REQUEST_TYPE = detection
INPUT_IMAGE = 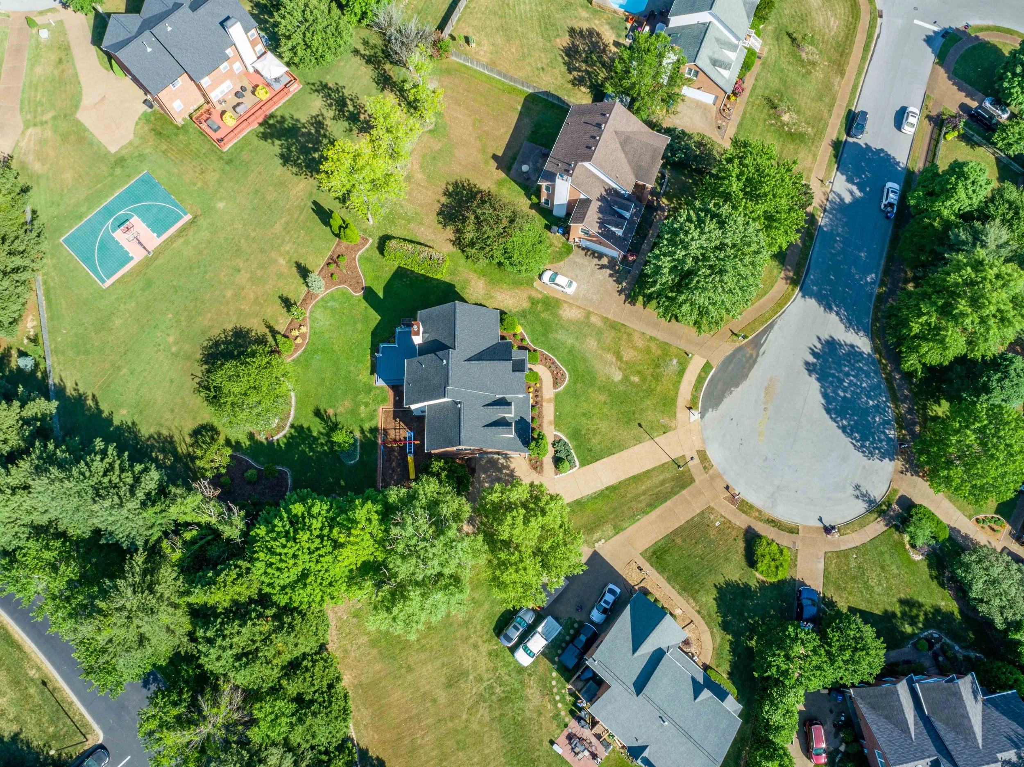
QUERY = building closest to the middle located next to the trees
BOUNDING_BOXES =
[404,303,532,454]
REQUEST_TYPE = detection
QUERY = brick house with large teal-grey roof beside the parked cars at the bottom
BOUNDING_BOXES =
[585,593,742,767]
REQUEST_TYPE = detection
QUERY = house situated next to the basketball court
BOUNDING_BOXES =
[102,0,267,117]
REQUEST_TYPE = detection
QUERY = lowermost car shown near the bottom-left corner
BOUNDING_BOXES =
[81,741,114,767]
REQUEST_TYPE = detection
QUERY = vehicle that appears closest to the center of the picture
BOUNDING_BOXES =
[541,272,577,295]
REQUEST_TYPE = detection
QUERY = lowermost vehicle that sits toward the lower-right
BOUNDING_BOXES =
[807,721,829,764]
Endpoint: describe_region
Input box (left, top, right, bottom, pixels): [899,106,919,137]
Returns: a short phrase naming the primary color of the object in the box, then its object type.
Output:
white car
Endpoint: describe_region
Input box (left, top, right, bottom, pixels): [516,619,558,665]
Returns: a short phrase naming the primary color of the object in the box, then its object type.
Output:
white truck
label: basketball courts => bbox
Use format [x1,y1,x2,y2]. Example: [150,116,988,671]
[59,169,192,289]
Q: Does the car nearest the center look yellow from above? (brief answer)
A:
No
